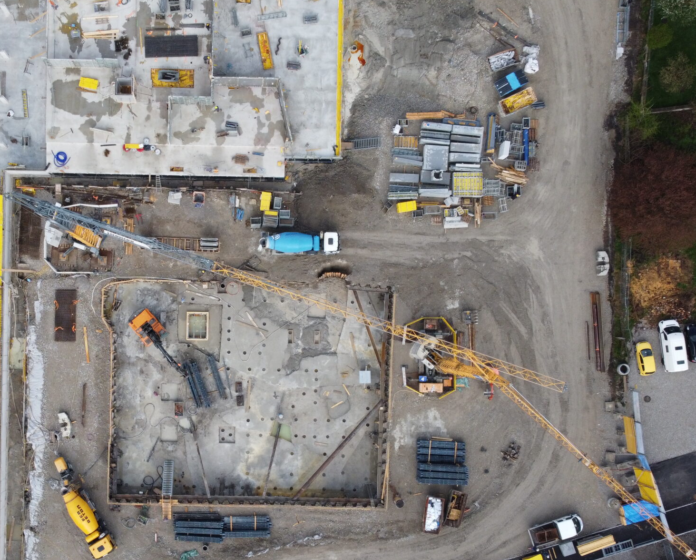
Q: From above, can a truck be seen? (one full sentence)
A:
Yes, I can see a truck in this picture.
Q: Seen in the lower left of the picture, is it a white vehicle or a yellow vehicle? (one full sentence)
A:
The feature located in the lower left of the picture is a yellow vehicle.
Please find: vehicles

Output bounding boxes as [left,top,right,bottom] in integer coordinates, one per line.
[634,342,656,377]
[255,229,341,256]
[126,306,195,382]
[656,321,689,373]
[527,517,585,549]
[682,323,696,362]
[58,484,120,560]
